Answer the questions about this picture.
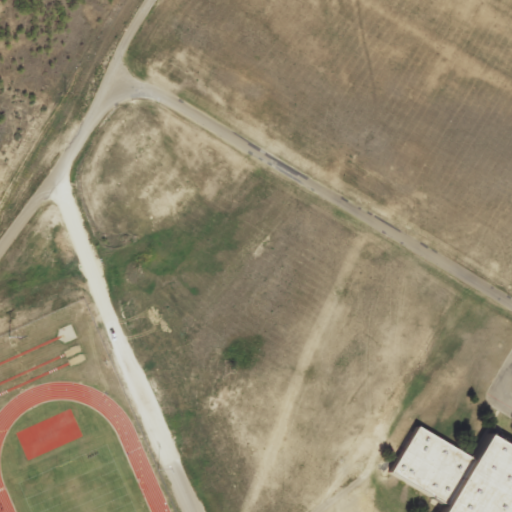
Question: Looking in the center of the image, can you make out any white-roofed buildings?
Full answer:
No, no white-roofed building can be made out in the center of the image.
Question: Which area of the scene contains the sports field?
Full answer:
Look in the bottom left portion of the view to spot the sports field.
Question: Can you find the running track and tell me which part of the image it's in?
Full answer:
Look in the bottom left portion of the view to spot the running track.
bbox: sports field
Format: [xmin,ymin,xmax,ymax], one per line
[1,401,151,512]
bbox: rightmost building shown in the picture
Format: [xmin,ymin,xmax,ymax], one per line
[442,434,512,512]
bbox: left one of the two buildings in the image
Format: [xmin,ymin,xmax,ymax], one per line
[390,426,473,504]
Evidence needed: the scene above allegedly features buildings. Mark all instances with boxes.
[442,434,512,512]
[390,426,473,504]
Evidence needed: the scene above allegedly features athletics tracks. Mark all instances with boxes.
[0,382,172,512]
